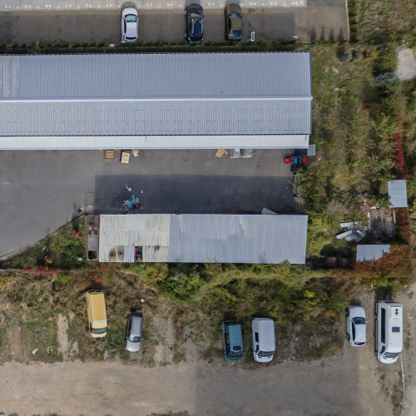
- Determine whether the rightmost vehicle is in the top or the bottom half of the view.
bottom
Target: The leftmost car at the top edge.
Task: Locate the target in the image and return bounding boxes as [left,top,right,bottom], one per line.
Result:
[121,7,139,43]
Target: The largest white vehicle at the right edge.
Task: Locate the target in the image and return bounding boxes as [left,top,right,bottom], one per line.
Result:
[371,300,404,360]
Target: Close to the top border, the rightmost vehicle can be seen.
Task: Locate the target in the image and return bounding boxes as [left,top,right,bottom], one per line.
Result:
[224,4,244,41]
